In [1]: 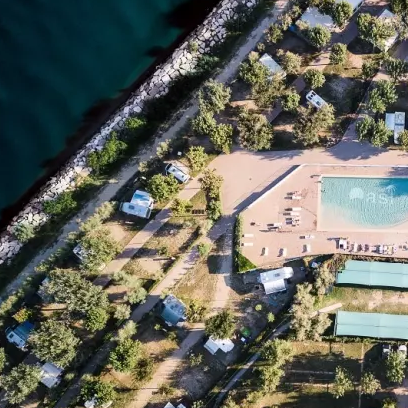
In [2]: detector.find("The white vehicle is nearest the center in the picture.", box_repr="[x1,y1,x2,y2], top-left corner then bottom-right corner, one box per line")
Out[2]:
[166,160,194,185]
